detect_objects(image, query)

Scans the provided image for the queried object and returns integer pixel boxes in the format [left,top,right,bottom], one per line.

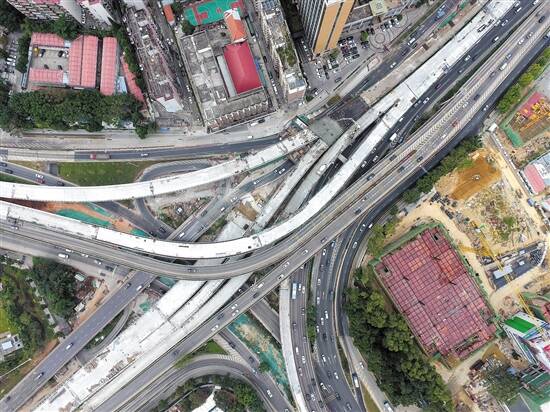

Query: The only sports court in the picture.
[180,0,248,27]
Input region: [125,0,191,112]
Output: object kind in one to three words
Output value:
building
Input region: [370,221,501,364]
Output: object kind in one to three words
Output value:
building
